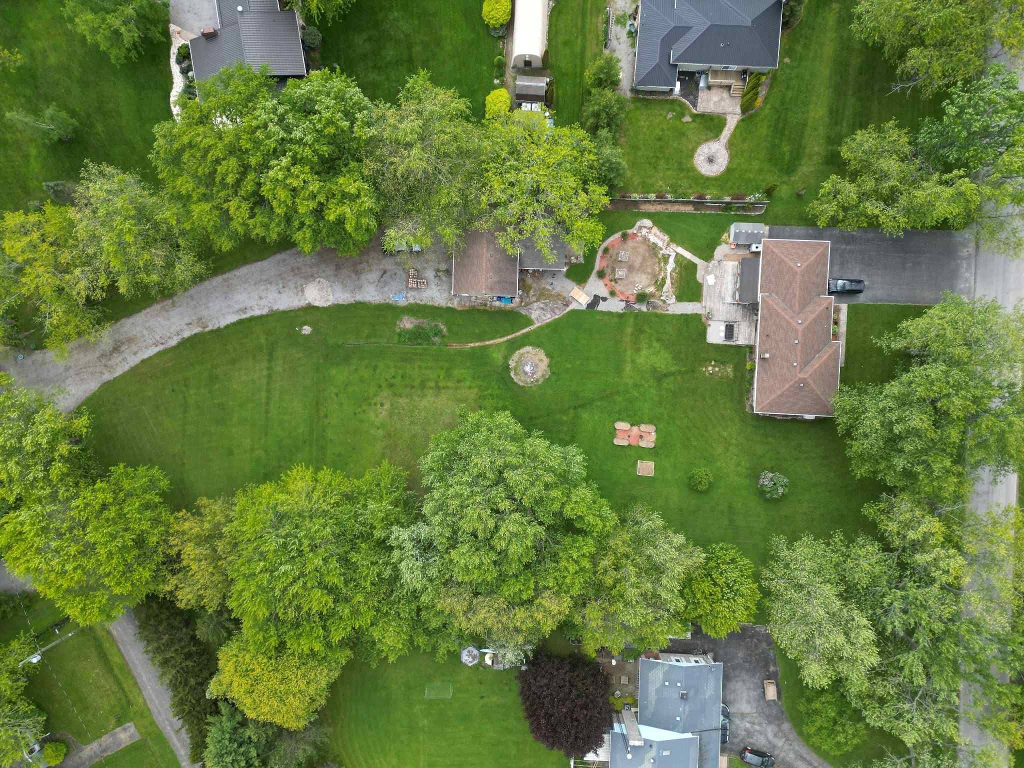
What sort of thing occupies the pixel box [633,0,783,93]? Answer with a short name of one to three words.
house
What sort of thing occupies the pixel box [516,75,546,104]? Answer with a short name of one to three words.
shed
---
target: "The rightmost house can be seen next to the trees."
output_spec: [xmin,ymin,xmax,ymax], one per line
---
[751,239,842,422]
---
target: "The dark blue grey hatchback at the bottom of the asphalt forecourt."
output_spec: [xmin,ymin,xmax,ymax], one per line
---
[741,747,778,768]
